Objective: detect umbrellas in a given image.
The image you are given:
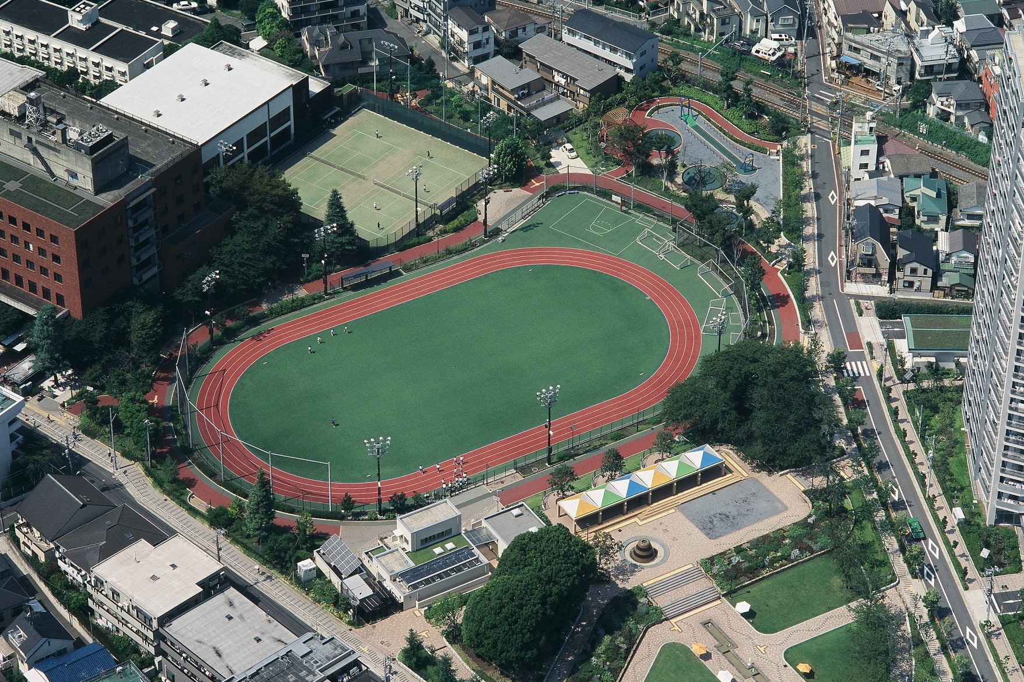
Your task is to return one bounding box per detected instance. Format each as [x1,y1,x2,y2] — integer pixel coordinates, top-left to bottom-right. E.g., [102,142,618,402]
[691,643,708,660]
[735,602,751,619]
[796,663,812,680]
[717,671,733,682]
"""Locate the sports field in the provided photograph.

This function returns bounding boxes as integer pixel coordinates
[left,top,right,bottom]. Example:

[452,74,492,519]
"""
[189,191,745,510]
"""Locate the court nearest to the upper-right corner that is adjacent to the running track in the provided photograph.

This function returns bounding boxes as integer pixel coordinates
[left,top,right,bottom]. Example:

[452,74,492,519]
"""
[551,199,637,255]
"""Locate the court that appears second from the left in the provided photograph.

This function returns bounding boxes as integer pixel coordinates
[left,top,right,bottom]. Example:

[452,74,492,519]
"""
[340,156,467,238]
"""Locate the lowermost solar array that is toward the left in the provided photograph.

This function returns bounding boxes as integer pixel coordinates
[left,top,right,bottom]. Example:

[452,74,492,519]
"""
[321,534,361,577]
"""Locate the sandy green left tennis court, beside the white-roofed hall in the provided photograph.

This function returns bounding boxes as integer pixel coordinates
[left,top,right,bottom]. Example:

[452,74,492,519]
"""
[272,129,401,209]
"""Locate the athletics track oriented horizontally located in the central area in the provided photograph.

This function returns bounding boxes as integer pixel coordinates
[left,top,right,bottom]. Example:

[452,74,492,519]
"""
[199,247,698,503]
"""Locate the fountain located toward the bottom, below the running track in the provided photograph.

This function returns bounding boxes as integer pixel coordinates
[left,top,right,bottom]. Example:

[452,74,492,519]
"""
[623,540,666,571]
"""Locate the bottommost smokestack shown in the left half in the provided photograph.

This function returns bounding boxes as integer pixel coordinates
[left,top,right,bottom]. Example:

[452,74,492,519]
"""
[54,122,68,143]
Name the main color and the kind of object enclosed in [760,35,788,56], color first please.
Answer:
white vehicle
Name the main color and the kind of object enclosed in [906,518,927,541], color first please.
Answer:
green car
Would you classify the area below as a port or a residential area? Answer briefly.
residential area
